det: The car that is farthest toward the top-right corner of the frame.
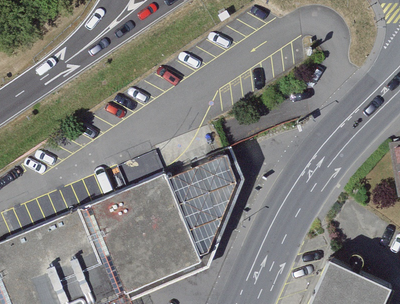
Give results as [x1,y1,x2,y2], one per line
[386,70,400,90]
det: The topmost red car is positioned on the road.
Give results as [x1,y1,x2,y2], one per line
[138,3,158,20]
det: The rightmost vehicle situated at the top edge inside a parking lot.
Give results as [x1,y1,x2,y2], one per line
[250,6,270,22]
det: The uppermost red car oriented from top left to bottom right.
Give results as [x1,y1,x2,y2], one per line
[156,68,180,86]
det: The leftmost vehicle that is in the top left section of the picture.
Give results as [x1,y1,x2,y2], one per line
[36,58,56,76]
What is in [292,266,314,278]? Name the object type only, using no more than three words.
vehicle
